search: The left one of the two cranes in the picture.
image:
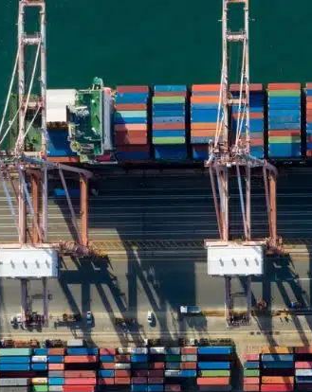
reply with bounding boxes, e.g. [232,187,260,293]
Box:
[0,0,115,331]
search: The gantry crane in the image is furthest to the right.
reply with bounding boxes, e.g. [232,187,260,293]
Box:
[202,0,295,331]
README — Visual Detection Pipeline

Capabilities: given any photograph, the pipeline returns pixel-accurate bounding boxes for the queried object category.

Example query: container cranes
[202,0,295,331]
[0,0,115,331]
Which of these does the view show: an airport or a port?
port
